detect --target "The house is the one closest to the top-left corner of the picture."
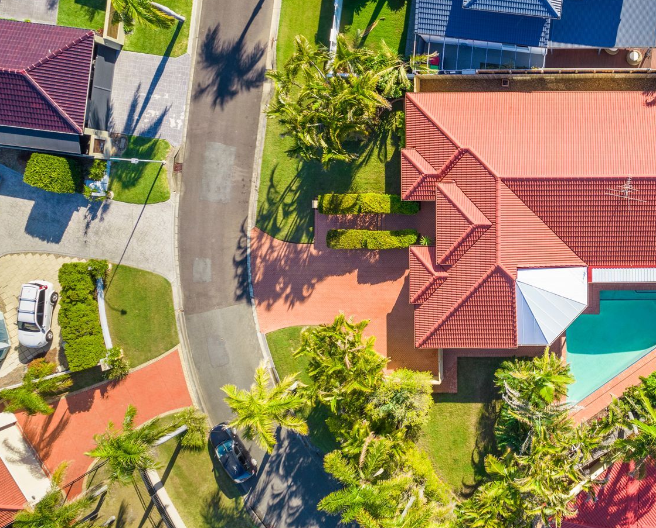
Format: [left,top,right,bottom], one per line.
[0,18,119,135]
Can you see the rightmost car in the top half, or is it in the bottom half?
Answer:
bottom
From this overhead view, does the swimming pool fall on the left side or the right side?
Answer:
right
